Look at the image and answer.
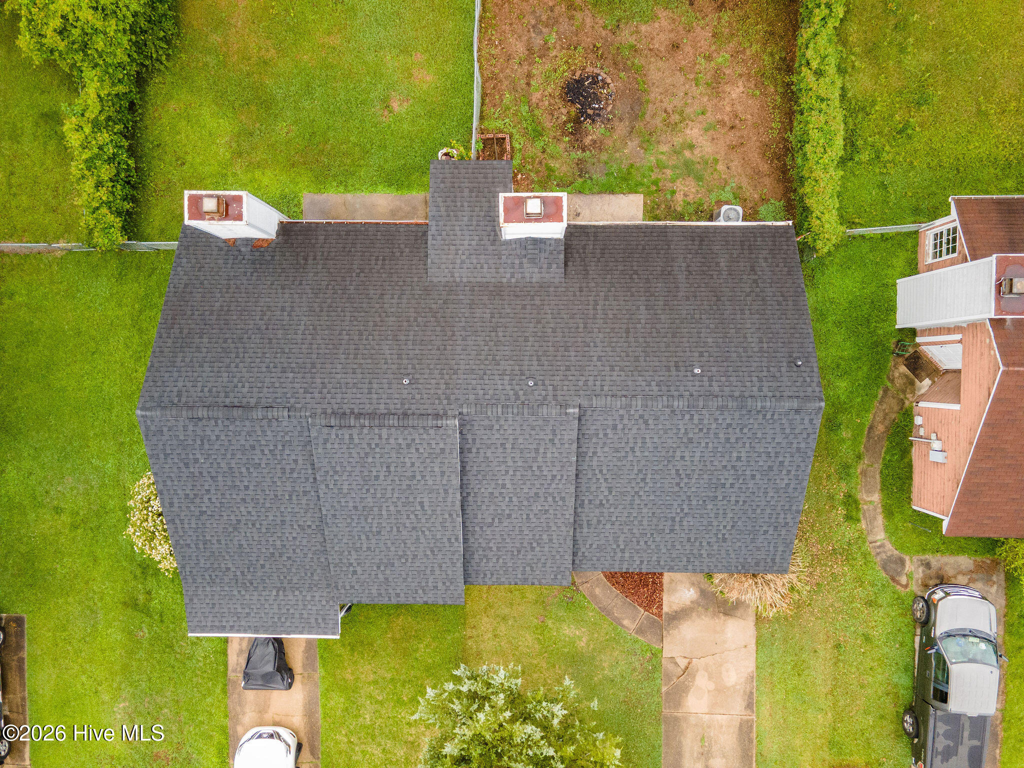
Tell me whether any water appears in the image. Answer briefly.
No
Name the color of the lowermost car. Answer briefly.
white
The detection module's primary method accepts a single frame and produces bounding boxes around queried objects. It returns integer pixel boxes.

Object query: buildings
[137,160,823,639]
[896,194,1024,537]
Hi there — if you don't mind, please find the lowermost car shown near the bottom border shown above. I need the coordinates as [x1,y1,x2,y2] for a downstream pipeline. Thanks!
[236,727,301,768]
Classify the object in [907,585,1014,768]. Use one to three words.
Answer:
truck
